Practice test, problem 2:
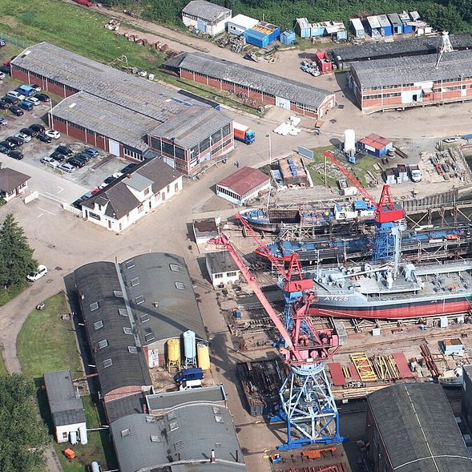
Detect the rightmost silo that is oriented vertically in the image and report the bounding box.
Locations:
[343,125,355,157]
